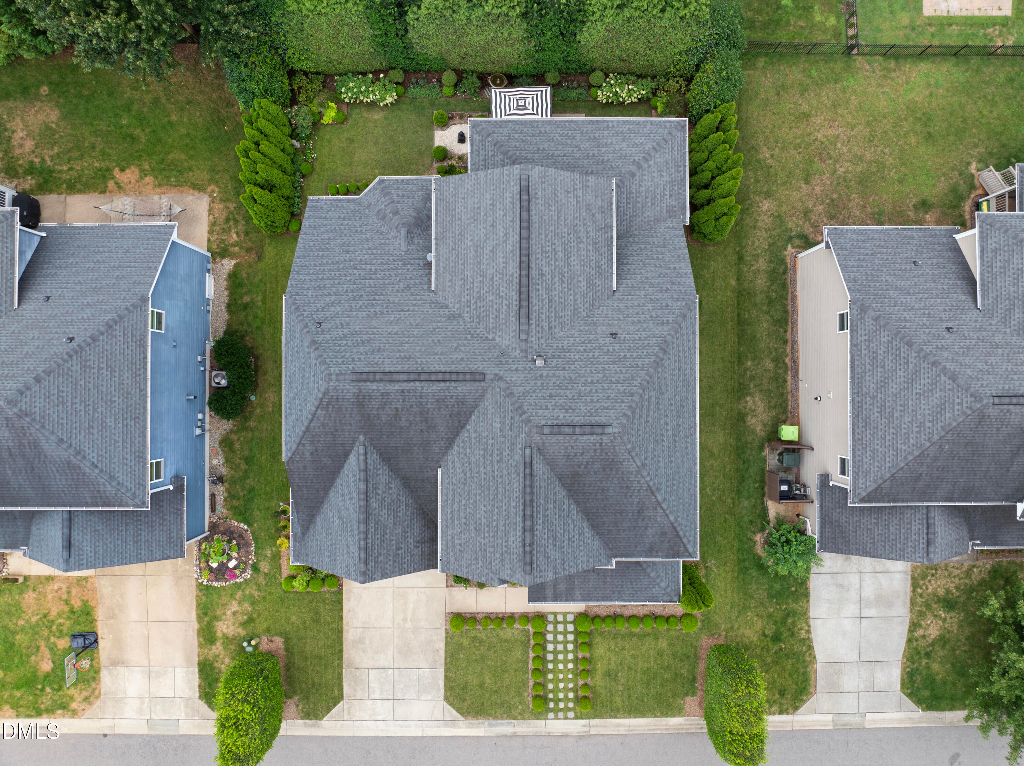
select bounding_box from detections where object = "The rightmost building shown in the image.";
[790,162,1024,564]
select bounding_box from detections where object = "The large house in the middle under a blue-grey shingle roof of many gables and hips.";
[282,116,700,606]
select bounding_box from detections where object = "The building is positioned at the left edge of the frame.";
[0,206,211,573]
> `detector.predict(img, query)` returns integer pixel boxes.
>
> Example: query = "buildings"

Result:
[282,116,700,606]
[790,162,1024,564]
[0,206,211,573]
